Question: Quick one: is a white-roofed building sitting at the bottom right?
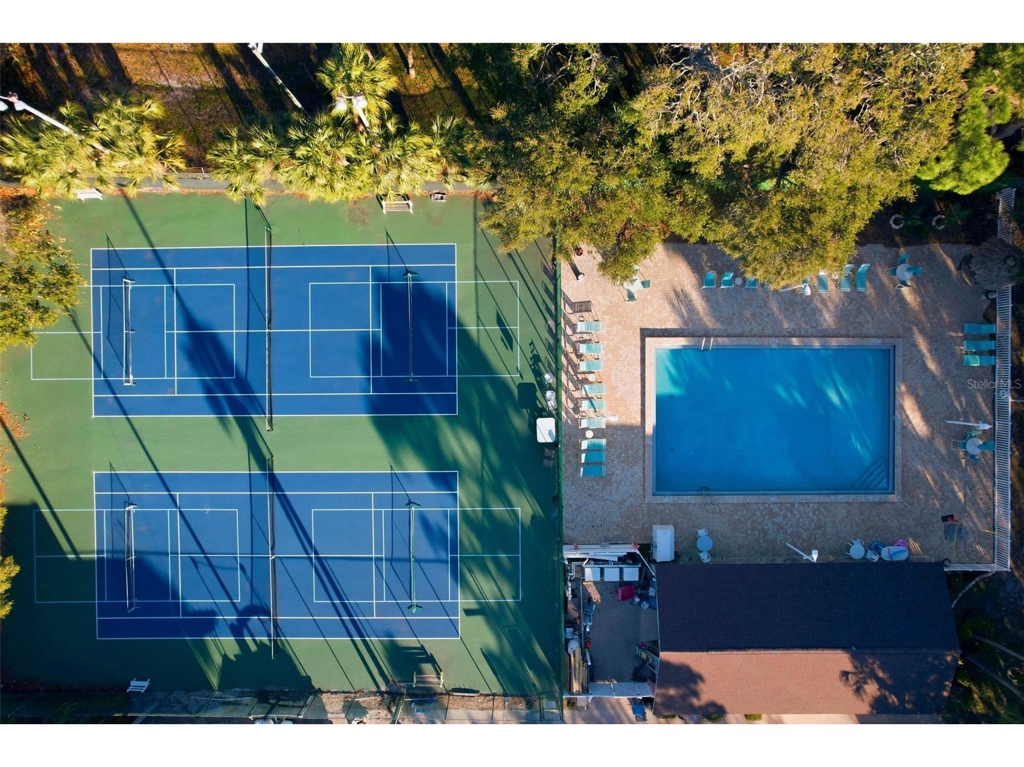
No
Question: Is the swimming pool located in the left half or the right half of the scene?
right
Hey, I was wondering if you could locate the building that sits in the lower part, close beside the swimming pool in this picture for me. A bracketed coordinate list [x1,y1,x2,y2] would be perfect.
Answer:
[654,559,961,715]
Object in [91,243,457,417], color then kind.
blue tennis court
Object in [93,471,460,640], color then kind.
blue tennis court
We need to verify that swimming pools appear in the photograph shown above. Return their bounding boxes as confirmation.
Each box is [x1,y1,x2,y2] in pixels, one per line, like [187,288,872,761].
[646,338,903,503]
